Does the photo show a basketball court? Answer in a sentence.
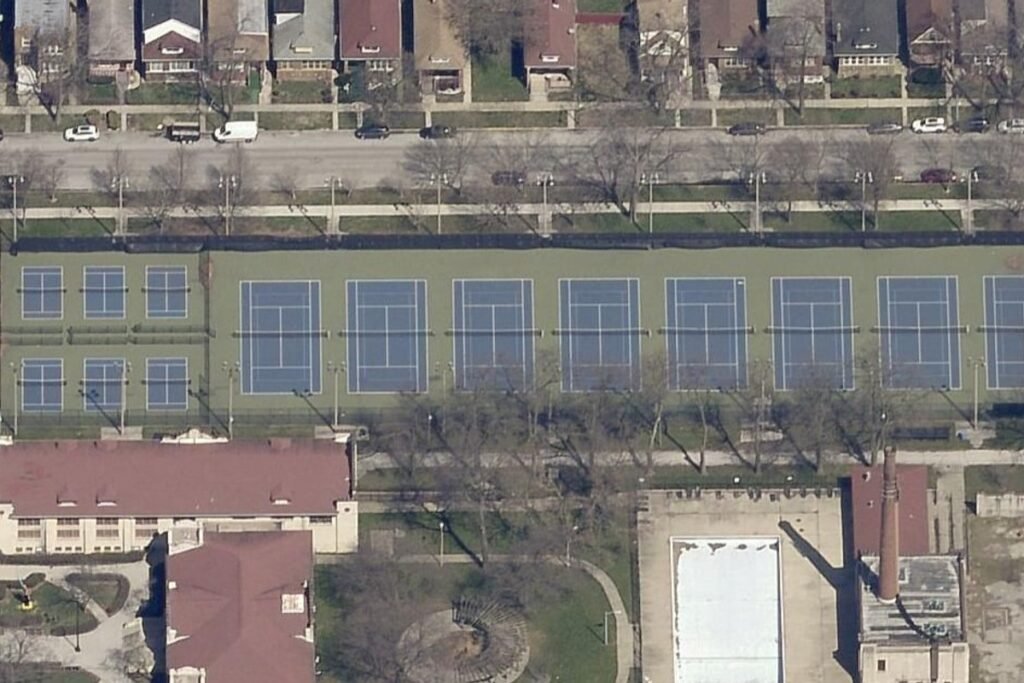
No, no basketball court can be seen from above.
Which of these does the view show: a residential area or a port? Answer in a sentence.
The picture captures a residential area.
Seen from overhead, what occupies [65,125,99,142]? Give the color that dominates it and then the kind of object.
white car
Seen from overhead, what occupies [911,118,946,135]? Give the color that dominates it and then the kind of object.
white car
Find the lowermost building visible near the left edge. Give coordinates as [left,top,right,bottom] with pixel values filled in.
[0,425,371,683]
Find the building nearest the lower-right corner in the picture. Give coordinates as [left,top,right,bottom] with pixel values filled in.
[851,465,969,683]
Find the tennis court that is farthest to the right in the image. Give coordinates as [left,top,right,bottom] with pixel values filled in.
[982,275,1024,389]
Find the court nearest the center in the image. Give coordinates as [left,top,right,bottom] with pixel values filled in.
[452,278,535,392]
